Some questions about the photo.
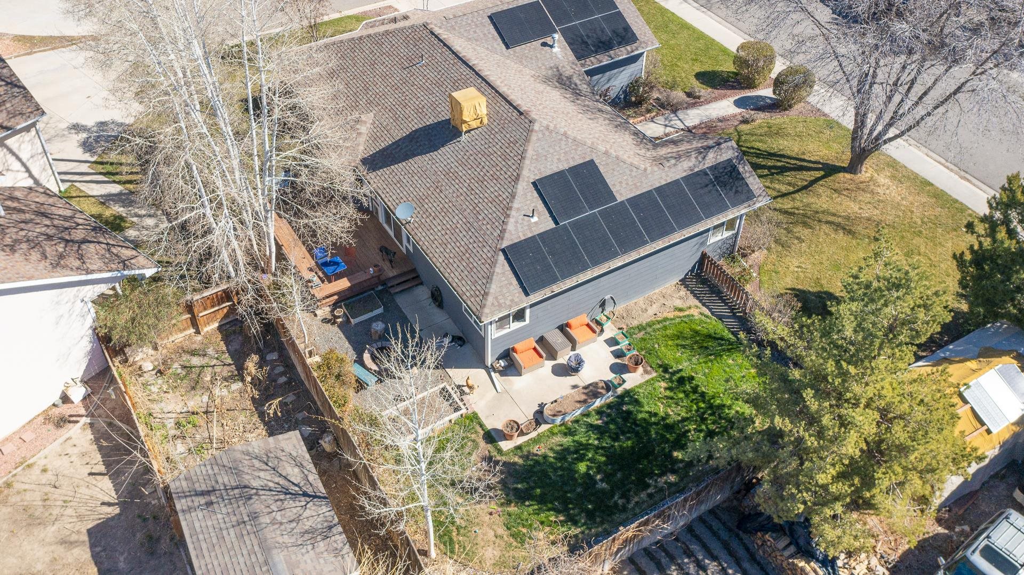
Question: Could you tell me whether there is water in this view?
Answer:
No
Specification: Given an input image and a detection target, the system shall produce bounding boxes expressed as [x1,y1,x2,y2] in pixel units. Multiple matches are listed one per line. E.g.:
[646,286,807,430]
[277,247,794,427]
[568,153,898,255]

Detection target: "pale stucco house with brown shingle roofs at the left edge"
[0,61,162,440]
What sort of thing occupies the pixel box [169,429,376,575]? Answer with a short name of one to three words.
shed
